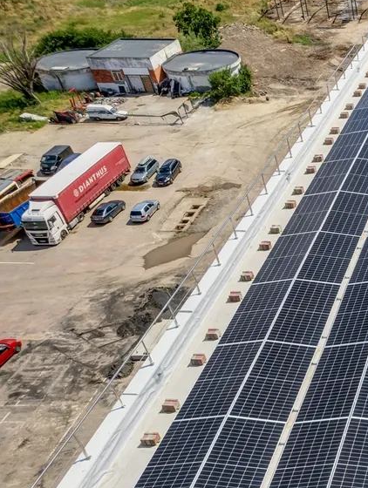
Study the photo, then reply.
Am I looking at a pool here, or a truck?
truck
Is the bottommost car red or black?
red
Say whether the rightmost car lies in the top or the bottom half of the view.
top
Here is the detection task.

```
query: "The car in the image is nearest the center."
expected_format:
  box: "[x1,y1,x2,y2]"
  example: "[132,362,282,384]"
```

[128,196,165,219]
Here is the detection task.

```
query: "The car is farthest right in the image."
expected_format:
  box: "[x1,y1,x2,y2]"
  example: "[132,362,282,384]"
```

[152,156,185,183]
